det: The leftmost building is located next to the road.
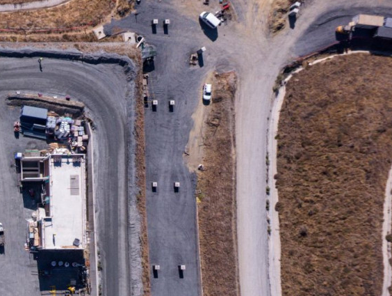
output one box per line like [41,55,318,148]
[34,154,87,249]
